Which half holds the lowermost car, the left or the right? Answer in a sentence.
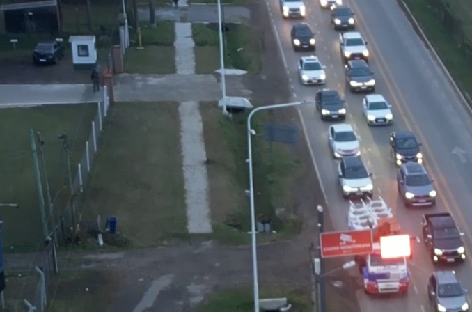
The lowermost car is on the right side of the image.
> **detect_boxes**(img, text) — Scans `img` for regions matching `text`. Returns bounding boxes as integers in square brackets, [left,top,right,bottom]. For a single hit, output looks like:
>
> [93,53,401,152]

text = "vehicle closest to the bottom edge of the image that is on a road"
[425,265,468,312]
